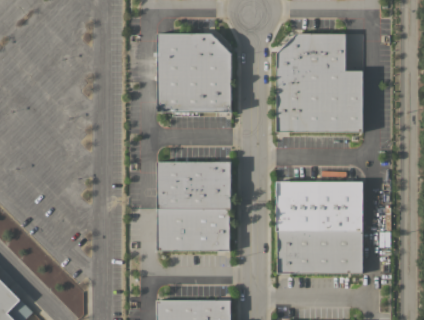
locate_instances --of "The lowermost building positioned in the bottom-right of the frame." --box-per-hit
[278,232,364,274]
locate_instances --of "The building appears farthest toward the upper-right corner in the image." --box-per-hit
[278,34,364,133]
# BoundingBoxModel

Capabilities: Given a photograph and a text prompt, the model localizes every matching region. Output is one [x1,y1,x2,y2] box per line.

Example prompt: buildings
[158,162,232,209]
[276,182,364,231]
[157,300,232,320]
[278,34,364,133]
[158,34,232,112]
[0,279,33,320]
[278,232,364,274]
[158,210,230,251]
